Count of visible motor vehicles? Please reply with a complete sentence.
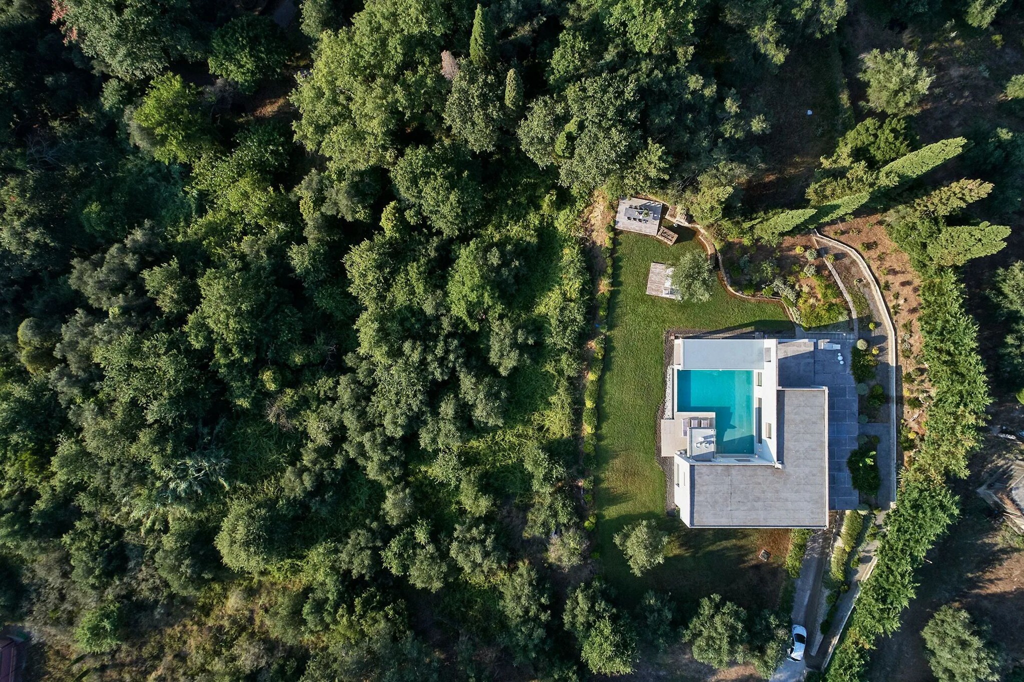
I count just 1 motor vehicle.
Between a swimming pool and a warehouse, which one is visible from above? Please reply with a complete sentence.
Looking from above, you can make out a swimming pool.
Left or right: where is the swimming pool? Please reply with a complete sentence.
The swimming pool is on the right side of the image.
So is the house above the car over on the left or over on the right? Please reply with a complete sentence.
You can find the house above the car on the right side of the picture.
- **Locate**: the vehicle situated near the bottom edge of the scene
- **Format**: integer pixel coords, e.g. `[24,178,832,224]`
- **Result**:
[788,627,811,665]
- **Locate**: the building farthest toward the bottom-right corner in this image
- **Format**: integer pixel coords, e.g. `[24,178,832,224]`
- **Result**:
[675,340,829,528]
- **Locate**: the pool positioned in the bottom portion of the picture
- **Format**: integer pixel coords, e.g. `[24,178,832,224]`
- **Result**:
[670,367,756,456]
